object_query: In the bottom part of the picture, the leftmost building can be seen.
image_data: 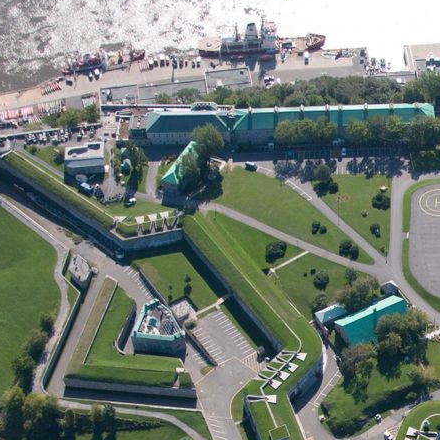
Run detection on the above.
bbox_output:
[70,254,94,289]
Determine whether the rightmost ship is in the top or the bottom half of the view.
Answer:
top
